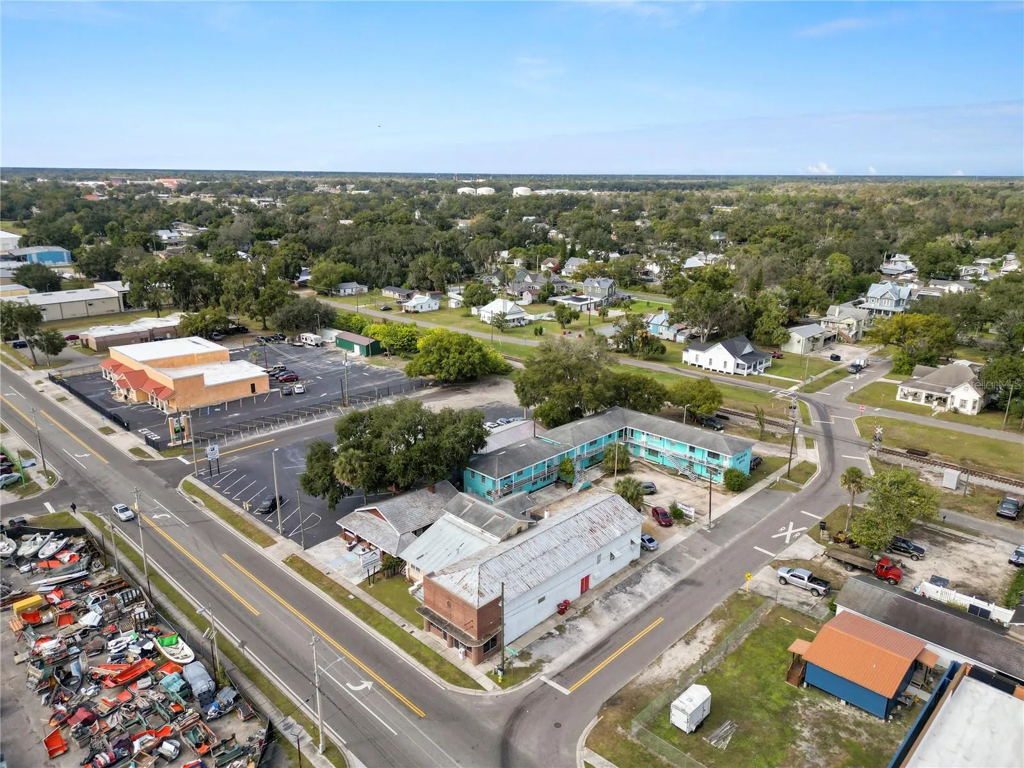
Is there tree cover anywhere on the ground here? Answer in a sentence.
Yes, some tree cover is visible.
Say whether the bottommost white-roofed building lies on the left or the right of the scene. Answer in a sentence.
You can find the bottommost white-roofed building on the right side of the picture.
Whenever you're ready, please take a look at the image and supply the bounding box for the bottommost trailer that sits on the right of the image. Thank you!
[675,682,708,728]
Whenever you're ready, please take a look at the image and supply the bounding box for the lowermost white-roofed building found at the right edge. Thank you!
[898,662,1024,768]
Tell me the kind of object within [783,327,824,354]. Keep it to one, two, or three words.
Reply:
building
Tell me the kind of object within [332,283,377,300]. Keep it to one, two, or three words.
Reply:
house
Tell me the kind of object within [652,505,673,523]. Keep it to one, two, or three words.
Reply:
car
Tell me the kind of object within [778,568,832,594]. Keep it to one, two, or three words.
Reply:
truck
